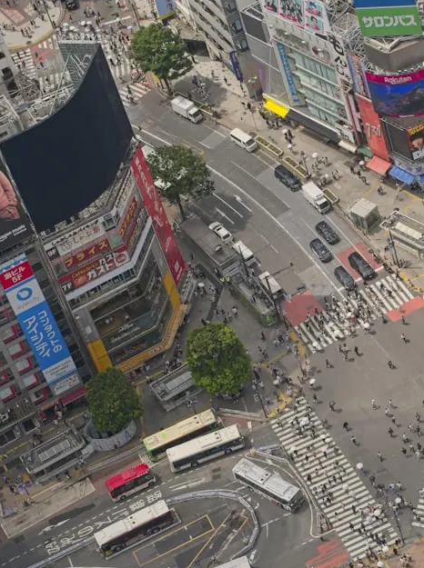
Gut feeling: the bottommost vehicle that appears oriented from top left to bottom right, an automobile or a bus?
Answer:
bus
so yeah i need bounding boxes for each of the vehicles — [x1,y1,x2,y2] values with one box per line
[331,264,358,290]
[213,221,234,241]
[94,502,177,559]
[167,92,202,120]
[231,236,257,263]
[64,0,79,13]
[308,237,335,262]
[314,220,341,244]
[144,411,221,467]
[101,462,156,504]
[229,125,259,150]
[273,161,301,189]
[237,459,306,517]
[168,427,247,478]
[346,247,376,279]
[257,266,283,297]
[299,177,331,212]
